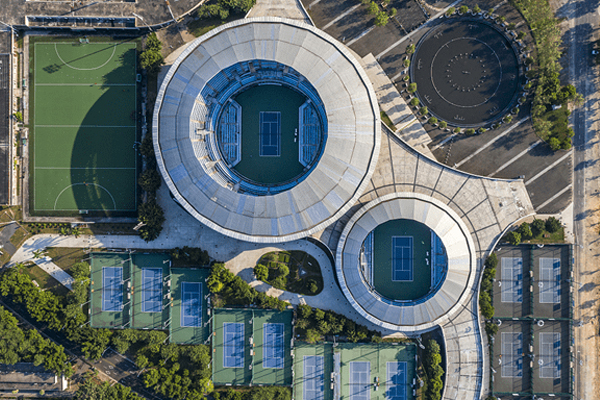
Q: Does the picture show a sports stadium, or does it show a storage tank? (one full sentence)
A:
Visible in the photo is a sports stadium.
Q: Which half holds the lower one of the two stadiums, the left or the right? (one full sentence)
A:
It is on the right.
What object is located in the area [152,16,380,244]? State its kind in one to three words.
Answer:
stadium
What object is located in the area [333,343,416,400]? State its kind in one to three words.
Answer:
tennis court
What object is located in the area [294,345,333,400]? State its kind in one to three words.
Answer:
tennis court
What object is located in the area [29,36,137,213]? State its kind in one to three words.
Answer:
sports field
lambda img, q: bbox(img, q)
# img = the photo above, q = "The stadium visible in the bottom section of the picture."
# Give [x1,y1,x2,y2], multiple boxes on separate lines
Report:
[336,192,475,331]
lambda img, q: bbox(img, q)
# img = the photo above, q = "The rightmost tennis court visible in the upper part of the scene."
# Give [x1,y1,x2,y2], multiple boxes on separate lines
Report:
[259,111,281,156]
